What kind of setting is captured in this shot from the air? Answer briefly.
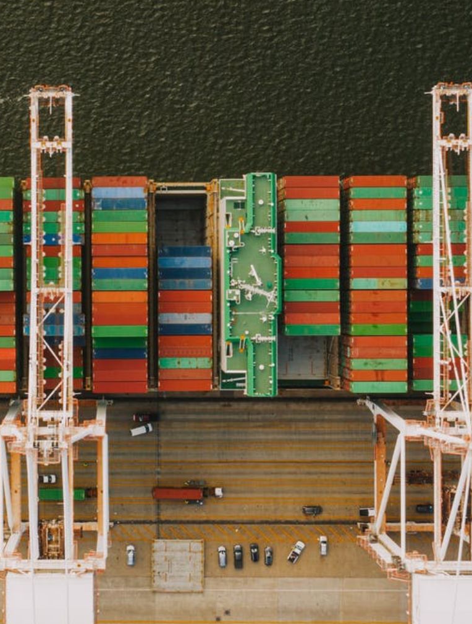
port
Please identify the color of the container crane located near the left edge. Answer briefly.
white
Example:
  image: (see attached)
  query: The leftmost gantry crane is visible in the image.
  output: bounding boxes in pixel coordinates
[0,82,112,624]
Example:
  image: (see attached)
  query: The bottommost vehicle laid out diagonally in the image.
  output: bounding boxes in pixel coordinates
[286,540,305,563]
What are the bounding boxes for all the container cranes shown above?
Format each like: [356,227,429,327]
[0,82,112,624]
[353,81,472,624]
